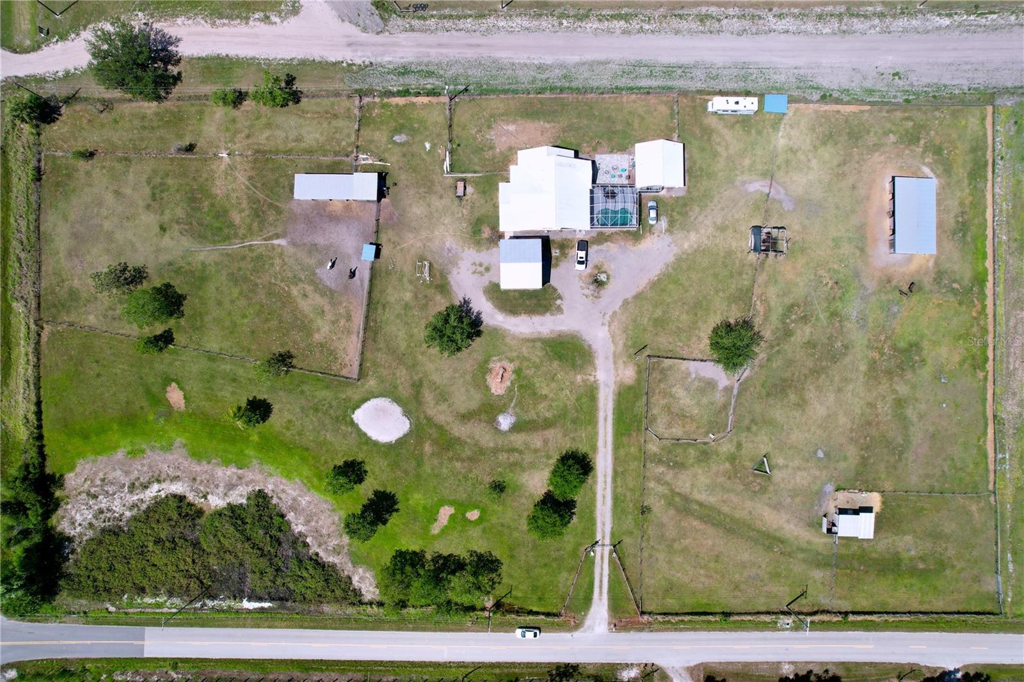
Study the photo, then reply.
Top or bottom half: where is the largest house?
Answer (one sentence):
It is in the top half that the largest house appears.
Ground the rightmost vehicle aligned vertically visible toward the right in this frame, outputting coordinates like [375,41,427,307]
[647,200,659,224]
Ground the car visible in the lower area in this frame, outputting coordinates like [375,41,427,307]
[516,627,540,640]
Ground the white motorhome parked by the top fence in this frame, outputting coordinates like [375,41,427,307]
[706,97,760,114]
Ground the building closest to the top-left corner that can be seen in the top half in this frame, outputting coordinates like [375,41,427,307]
[293,172,378,201]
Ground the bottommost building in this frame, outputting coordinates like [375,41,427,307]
[822,509,875,538]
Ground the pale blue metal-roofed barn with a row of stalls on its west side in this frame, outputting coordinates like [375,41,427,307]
[886,174,936,254]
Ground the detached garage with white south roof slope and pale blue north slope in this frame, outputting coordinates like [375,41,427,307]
[500,239,542,289]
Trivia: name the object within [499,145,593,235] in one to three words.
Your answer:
house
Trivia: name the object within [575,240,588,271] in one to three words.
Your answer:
vehicle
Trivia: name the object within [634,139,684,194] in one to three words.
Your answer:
house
